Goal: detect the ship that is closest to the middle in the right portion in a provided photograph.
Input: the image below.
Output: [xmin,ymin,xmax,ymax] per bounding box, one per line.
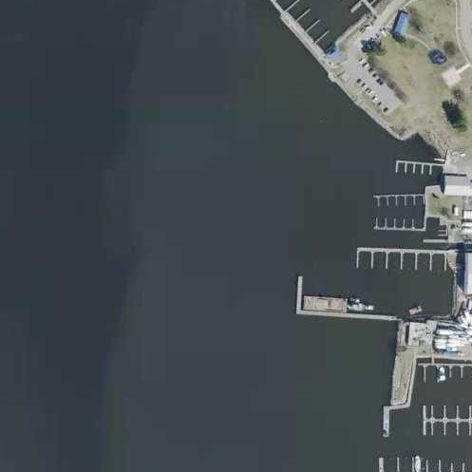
[304,296,347,312]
